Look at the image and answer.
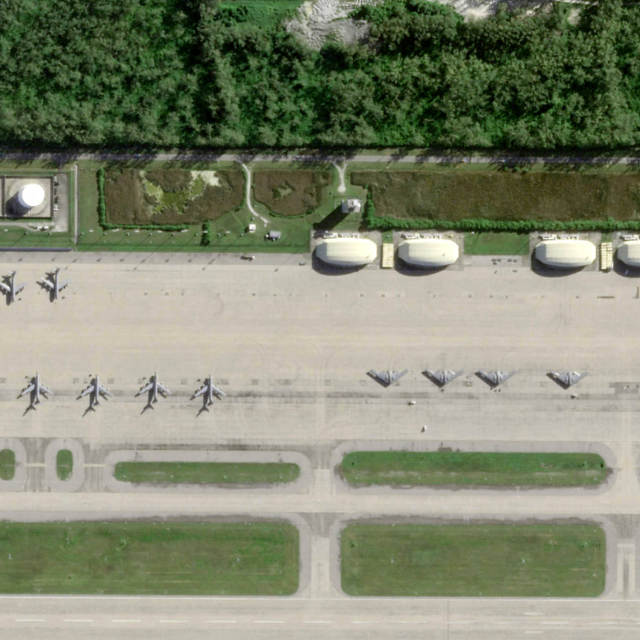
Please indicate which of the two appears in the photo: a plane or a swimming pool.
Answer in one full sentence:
It is a plane that can be seen here.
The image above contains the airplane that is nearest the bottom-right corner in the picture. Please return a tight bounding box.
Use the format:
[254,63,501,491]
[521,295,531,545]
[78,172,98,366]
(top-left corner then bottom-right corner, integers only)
[552,370,587,386]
